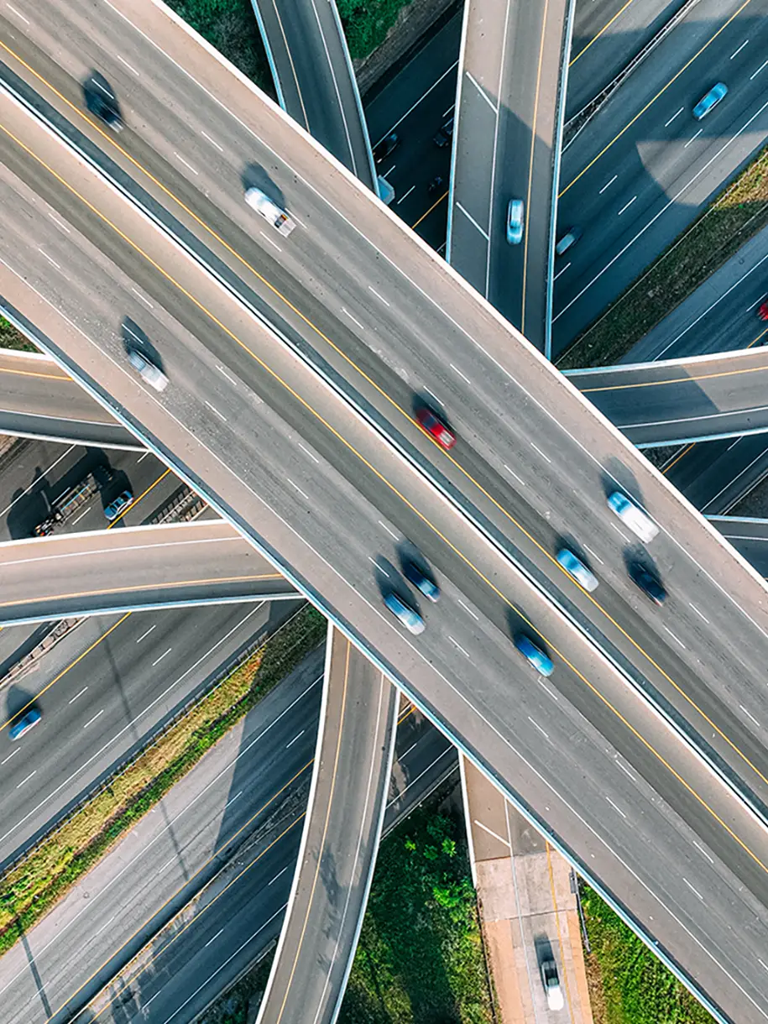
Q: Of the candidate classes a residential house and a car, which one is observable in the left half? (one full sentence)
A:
The feature located in the left half is a car.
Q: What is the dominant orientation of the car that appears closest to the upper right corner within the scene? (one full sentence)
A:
What the image shows is the car that appears closest to the upper right corner lying on a diagonal.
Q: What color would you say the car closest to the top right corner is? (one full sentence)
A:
The car closest to the top right corner is blue.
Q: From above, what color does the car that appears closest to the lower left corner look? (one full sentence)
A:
The car that appears closest to the lower left corner is blue.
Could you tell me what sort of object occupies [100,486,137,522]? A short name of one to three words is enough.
car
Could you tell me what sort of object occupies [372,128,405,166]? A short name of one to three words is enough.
car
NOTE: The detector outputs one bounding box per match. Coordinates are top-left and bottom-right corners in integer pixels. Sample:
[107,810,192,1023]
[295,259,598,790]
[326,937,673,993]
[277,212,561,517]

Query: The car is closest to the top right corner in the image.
[692,83,728,119]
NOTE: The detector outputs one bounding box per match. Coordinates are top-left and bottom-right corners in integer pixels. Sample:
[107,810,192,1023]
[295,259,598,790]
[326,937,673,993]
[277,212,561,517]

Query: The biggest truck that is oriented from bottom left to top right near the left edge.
[11,456,118,541]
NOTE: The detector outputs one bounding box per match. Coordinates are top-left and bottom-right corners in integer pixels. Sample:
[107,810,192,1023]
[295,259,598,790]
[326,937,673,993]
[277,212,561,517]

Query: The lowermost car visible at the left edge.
[5,705,43,742]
